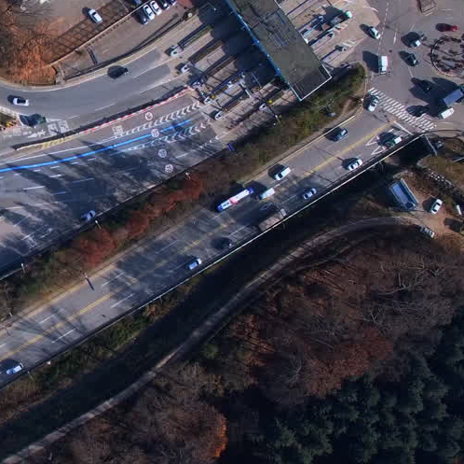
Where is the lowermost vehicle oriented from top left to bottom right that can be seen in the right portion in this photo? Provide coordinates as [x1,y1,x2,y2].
[419,224,437,239]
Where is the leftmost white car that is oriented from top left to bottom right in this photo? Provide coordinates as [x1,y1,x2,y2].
[87,8,103,24]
